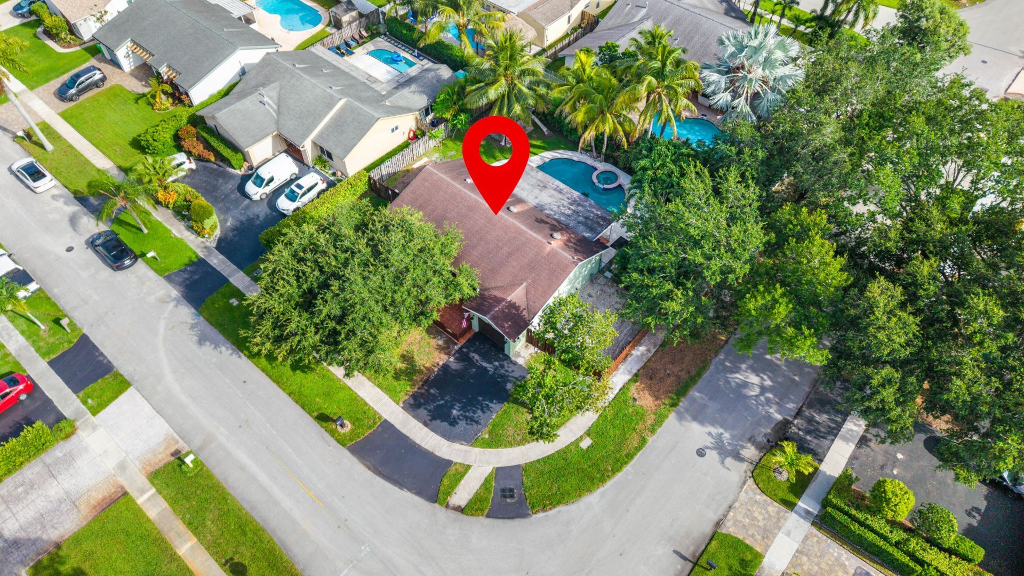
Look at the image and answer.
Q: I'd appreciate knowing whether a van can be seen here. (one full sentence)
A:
Yes, the photo shows a van.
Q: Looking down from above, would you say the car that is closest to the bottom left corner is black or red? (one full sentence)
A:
In this view, the car that is closest to the bottom left corner is red.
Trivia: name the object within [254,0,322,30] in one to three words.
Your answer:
swimming pool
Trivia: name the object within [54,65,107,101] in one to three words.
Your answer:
car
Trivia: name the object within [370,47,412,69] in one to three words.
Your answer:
swimming pool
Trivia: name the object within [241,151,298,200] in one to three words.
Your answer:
van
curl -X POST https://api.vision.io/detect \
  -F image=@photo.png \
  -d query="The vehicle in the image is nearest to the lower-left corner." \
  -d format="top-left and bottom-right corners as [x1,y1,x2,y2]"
[0,374,32,418]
